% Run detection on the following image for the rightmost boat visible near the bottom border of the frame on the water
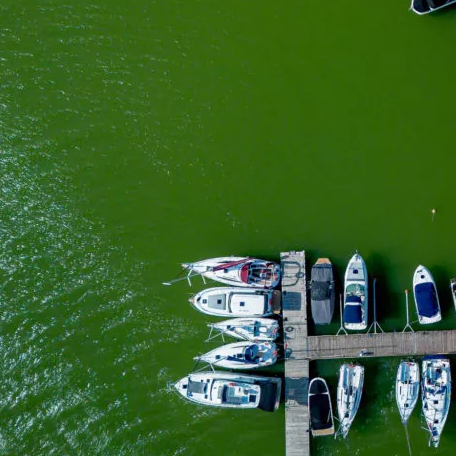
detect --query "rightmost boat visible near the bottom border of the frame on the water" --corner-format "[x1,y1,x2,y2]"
[421,357,451,448]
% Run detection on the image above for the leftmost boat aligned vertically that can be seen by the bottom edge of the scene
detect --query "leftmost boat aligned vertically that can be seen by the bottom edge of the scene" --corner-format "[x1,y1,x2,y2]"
[309,376,334,436]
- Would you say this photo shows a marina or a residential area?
marina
